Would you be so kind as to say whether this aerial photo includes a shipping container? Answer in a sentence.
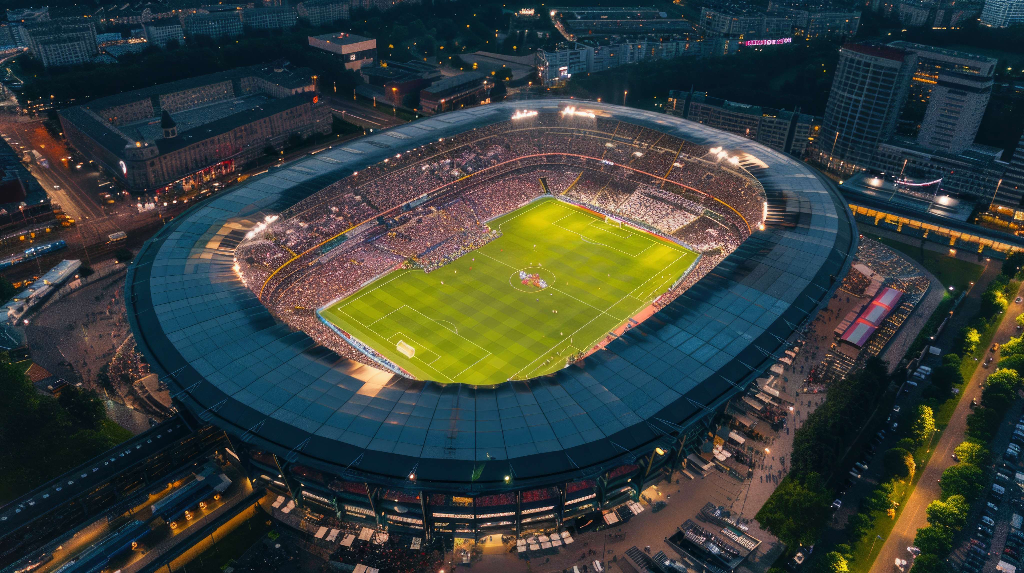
No, this view has no shipping container in it.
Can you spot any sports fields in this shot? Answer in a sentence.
Yes, the image includes a sports field.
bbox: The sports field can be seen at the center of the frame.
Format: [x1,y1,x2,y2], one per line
[318,195,707,384]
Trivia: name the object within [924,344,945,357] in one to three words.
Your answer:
vehicle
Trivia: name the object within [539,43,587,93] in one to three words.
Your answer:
building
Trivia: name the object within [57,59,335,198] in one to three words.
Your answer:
building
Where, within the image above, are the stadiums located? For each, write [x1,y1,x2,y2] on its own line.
[119,97,860,573]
